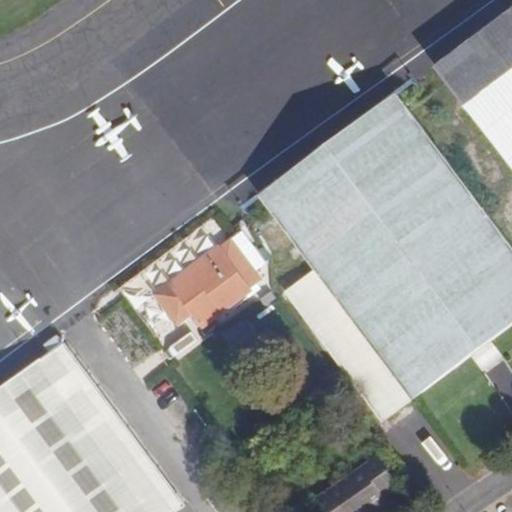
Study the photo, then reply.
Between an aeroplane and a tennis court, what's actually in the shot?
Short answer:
aeroplane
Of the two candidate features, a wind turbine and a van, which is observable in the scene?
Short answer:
van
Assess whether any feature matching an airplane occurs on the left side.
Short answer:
Yes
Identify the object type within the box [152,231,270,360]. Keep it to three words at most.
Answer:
house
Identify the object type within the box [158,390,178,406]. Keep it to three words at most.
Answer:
car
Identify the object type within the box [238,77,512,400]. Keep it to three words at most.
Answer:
hangar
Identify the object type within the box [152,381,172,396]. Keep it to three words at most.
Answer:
car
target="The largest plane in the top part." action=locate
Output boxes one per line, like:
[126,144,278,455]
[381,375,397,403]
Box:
[86,109,140,163]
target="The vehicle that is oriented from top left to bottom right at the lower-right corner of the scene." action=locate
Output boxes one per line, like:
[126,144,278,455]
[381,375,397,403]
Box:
[422,436,452,469]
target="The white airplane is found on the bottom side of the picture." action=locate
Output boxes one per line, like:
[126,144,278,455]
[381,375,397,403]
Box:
[0,292,36,336]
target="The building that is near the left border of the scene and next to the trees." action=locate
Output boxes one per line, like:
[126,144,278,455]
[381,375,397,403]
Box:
[0,336,186,512]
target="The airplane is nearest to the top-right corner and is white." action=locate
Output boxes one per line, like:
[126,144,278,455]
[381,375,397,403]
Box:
[326,57,364,95]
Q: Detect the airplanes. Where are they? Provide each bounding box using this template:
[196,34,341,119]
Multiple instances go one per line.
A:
[326,57,364,95]
[0,292,36,336]
[86,109,140,163]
